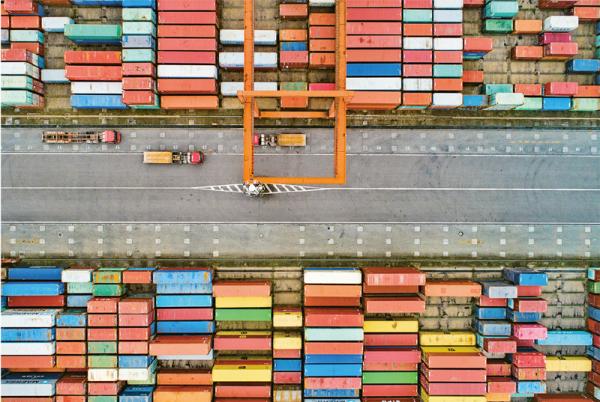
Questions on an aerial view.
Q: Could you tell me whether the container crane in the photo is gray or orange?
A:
orange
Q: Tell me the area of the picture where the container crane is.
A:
top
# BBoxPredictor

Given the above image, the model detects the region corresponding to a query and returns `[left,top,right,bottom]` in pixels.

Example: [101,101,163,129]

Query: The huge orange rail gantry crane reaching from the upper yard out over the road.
[238,0,354,184]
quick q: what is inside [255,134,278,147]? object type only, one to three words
vehicle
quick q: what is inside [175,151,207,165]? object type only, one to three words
vehicle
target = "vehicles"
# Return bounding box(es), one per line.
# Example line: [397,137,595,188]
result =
[175,151,207,165]
[255,134,278,147]
[42,129,124,143]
